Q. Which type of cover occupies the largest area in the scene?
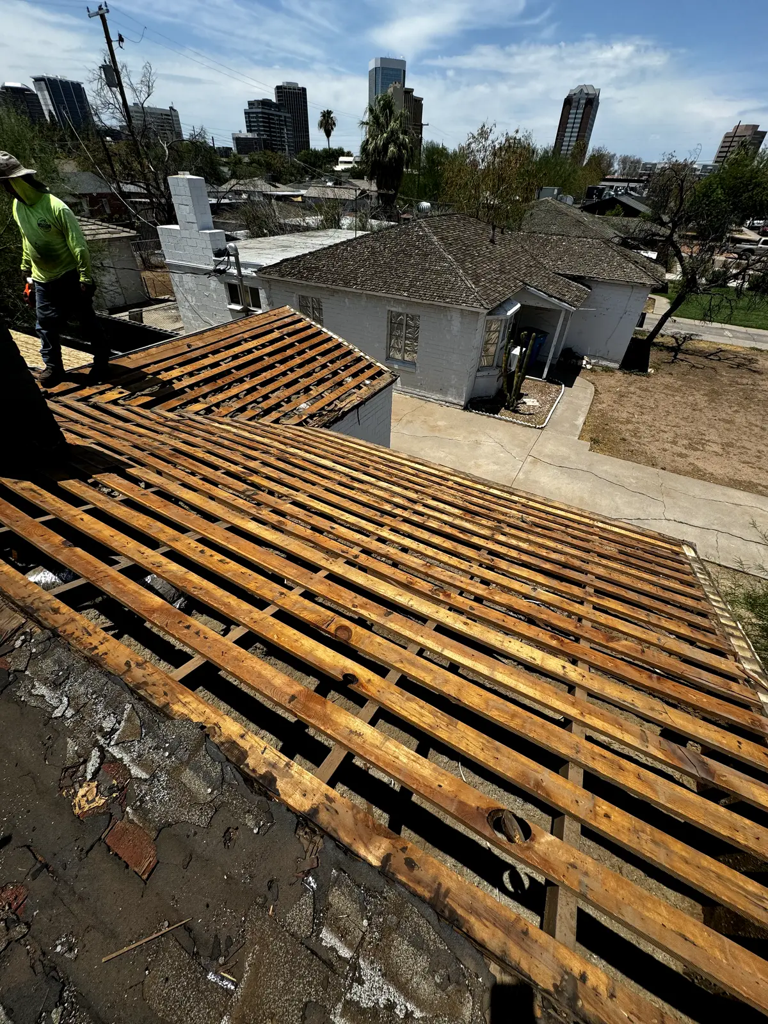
buildings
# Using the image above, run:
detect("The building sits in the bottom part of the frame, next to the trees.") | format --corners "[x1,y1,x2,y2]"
[0,304,768,1024]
